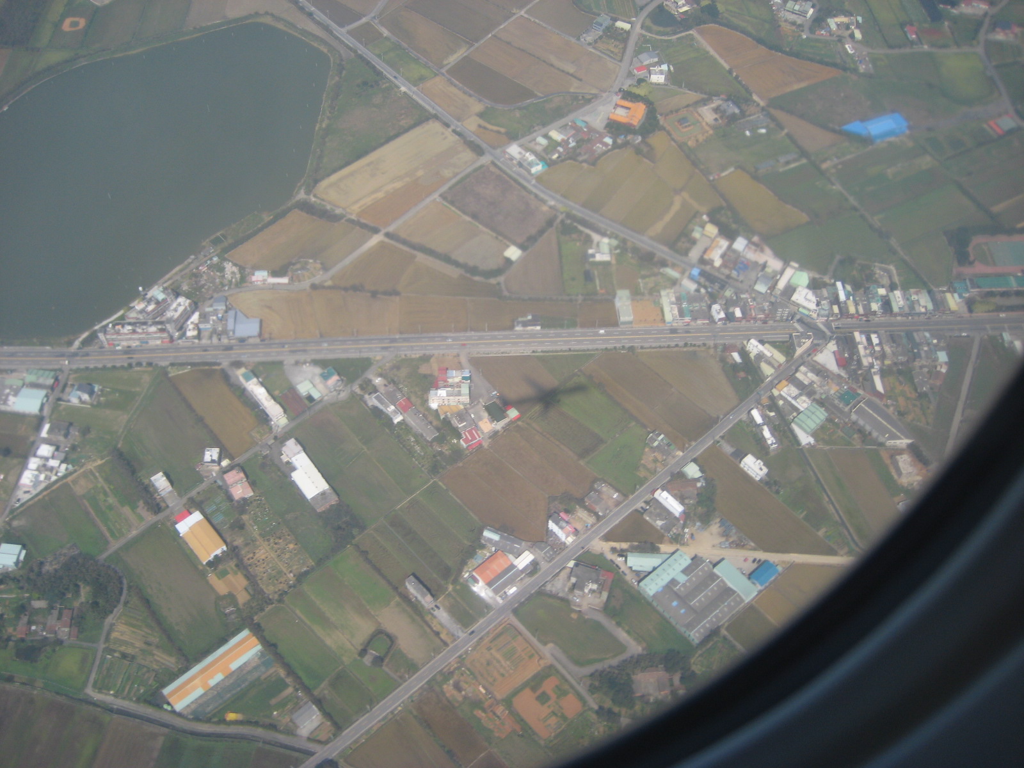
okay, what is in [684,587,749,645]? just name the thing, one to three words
building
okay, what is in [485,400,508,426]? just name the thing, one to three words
shed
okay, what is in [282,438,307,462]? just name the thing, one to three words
house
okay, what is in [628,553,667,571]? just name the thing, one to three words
shed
